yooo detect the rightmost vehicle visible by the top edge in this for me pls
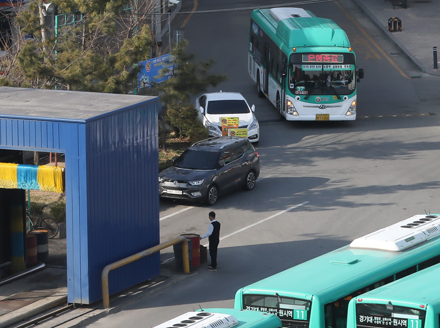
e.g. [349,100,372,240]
[248,9,368,122]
